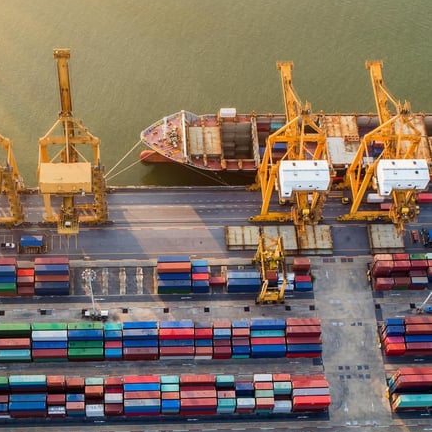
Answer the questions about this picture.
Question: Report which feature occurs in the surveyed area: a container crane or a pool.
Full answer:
Of the two, only a container crane appears.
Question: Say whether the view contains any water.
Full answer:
Yes, there is water in the image.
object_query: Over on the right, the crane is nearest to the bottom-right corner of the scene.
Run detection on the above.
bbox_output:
[247,235,295,306]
